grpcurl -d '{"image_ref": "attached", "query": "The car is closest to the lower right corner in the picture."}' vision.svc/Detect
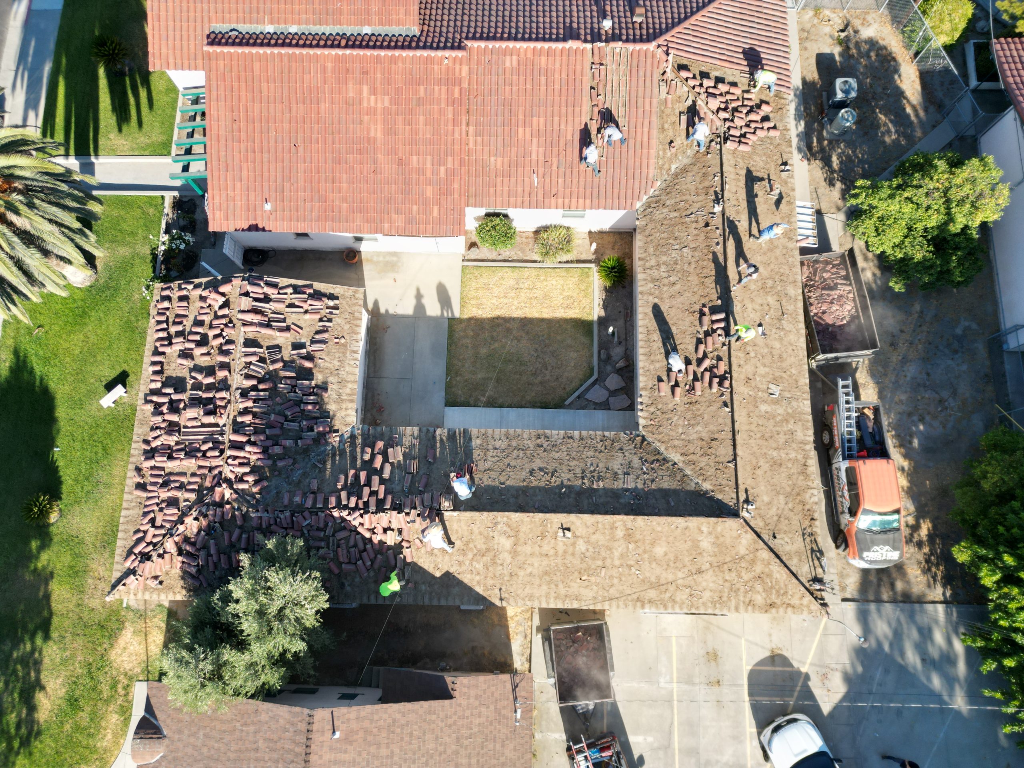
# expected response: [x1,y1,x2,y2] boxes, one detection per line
[763,702,846,768]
